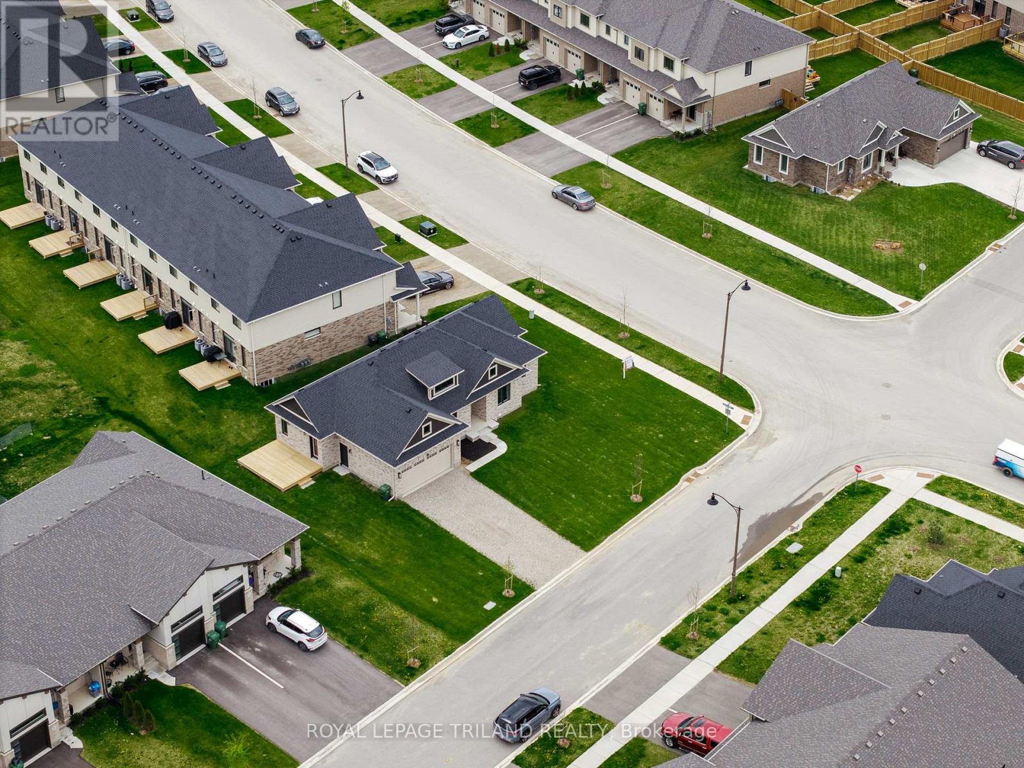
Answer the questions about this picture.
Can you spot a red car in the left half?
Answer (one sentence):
No, no red car appears in the left half.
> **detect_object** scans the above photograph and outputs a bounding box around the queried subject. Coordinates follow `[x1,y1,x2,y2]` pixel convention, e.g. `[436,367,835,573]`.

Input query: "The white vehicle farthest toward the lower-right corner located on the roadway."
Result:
[993,439,1024,481]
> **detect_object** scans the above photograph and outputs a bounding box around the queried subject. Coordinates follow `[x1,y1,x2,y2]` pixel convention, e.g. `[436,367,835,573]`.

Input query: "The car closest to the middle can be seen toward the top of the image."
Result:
[415,270,459,297]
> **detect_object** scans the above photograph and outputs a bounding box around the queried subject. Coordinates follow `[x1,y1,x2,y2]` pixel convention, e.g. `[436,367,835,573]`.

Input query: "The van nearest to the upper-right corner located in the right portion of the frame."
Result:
[977,140,1024,170]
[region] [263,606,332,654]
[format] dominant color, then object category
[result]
white car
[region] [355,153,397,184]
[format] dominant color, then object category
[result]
white car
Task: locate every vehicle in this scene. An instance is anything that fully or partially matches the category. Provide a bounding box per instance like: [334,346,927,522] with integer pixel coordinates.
[493,689,562,746]
[517,64,563,90]
[142,0,175,22]
[264,88,300,117]
[658,712,730,759]
[294,28,328,49]
[148,76,195,98]
[194,41,228,66]
[263,606,332,654]
[355,153,397,184]
[136,70,169,92]
[431,10,473,34]
[111,38,139,56]
[297,184,338,208]
[993,439,1024,481]
[444,26,488,49]
[549,183,598,211]
[977,140,1024,170]
[415,270,459,297]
